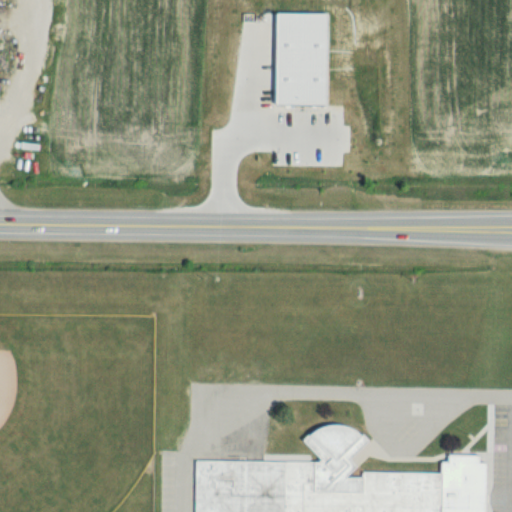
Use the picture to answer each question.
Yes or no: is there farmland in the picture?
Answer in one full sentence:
Yes, farmland can be seen from above here.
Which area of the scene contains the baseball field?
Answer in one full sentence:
The baseball field is located in the bottom left region of the scene.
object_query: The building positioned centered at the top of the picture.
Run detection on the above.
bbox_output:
[276,12,330,108]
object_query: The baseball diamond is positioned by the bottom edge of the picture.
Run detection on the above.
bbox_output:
[0,316,156,512]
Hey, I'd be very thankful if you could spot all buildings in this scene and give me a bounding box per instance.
[276,12,330,108]
[196,424,487,512]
